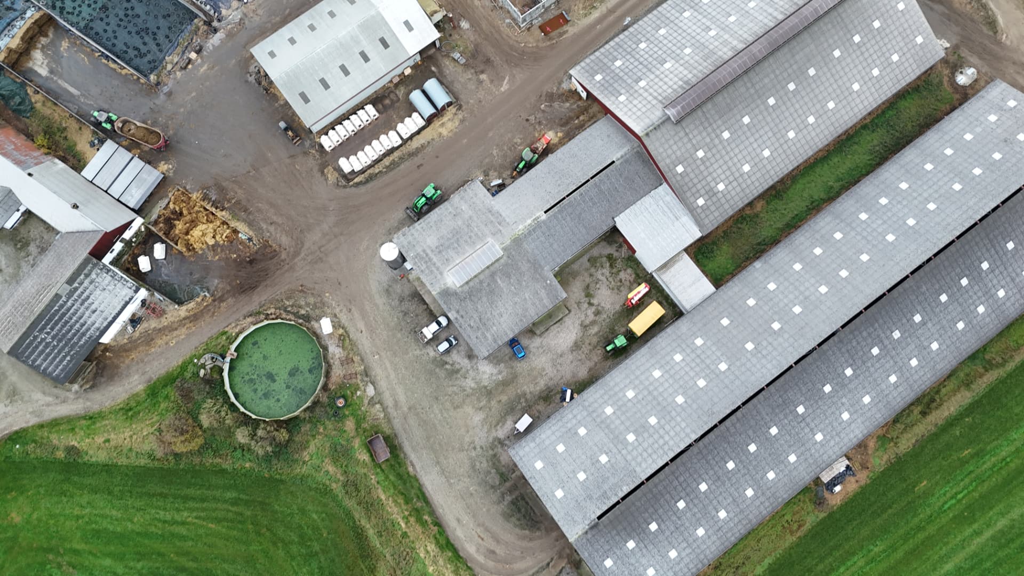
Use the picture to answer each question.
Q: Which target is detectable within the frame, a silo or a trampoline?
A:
silo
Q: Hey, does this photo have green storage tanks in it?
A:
Yes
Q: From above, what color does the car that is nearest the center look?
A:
blue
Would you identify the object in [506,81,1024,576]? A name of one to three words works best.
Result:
barn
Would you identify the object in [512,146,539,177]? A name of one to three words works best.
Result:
work vehicle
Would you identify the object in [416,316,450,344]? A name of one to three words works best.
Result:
truck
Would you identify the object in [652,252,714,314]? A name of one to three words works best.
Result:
shed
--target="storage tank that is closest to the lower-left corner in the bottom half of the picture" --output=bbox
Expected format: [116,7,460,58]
[224,320,328,421]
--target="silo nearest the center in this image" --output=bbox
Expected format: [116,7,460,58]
[381,243,413,273]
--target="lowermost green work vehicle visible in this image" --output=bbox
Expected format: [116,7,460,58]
[599,330,632,359]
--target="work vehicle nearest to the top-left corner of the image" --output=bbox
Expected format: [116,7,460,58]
[87,108,120,132]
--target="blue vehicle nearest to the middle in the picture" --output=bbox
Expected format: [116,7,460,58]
[508,336,528,361]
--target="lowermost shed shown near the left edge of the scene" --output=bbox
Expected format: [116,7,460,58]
[0,230,145,387]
